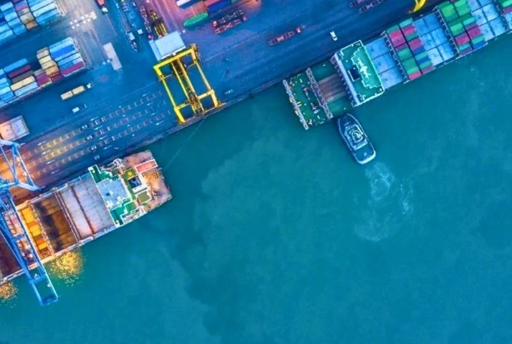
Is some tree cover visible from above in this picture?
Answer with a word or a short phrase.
No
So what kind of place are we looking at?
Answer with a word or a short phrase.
port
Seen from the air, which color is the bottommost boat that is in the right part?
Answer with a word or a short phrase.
blue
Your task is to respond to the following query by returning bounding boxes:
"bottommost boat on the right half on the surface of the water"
[337,114,375,168]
